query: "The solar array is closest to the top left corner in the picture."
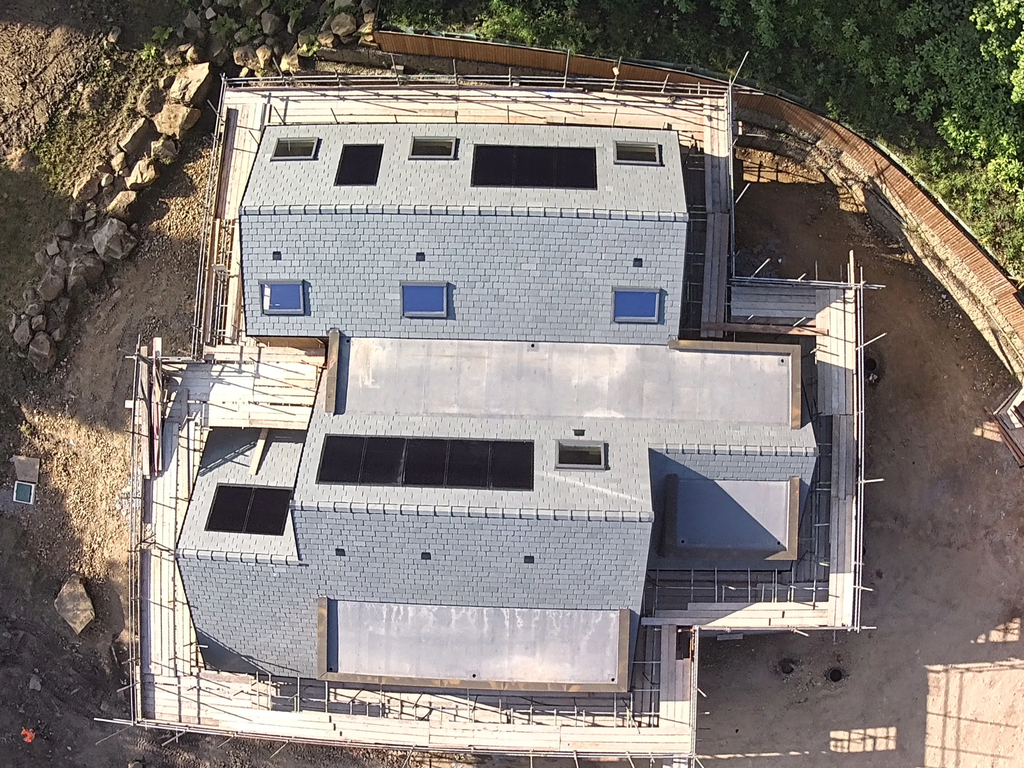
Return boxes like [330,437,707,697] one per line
[334,144,384,185]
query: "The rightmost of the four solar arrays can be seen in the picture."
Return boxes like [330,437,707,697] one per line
[471,146,597,188]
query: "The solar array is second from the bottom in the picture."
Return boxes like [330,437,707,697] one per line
[315,435,534,490]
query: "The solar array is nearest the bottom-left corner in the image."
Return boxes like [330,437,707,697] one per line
[205,485,293,533]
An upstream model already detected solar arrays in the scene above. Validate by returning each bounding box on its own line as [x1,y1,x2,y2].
[334,144,384,185]
[471,146,597,188]
[315,435,534,490]
[205,485,293,533]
